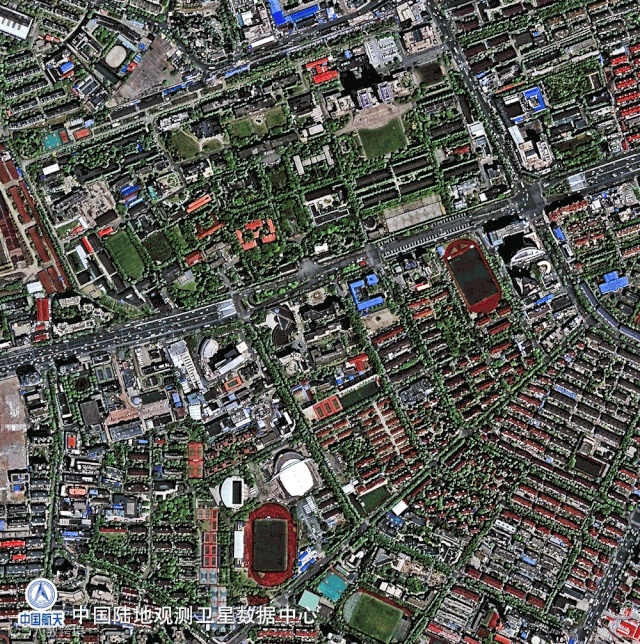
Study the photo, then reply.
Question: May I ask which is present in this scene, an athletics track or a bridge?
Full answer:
Visible in the photo is an athletics track.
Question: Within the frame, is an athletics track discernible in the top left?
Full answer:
No, no athletics track can be made out in the top left.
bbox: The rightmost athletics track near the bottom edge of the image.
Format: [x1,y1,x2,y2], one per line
[343,590,413,644]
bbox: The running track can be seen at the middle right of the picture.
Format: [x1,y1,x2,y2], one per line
[446,240,502,313]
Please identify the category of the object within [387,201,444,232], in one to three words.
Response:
basketball court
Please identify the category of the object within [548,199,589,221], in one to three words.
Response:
building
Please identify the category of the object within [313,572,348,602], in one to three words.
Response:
basketball court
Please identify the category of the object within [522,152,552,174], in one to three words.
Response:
building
